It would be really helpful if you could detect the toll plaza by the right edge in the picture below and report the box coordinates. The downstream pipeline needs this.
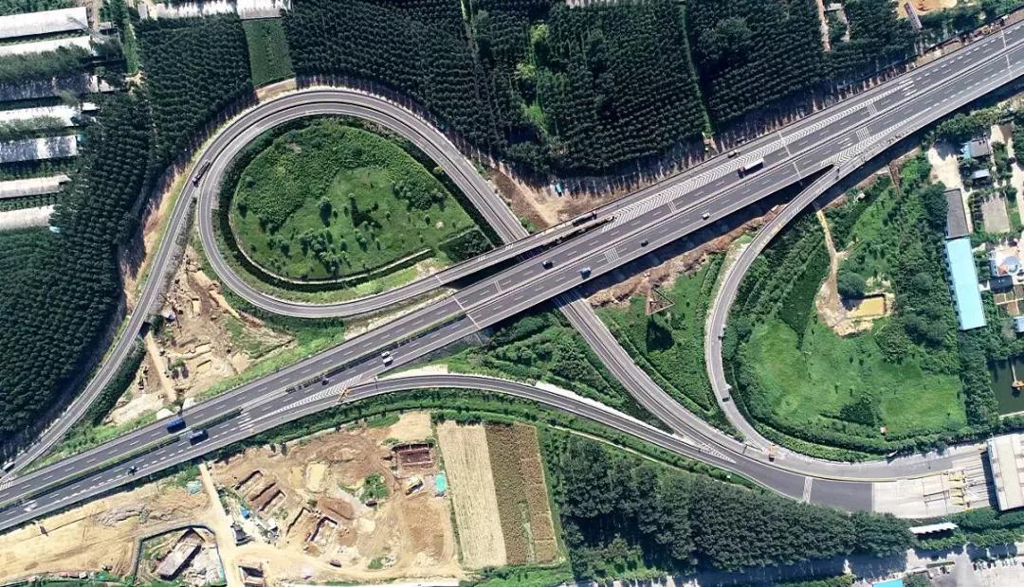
[949,430,1024,513]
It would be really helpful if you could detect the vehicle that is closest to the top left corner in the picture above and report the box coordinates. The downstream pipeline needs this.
[192,161,208,182]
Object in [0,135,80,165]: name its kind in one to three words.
greenhouse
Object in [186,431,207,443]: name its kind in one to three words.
vehicle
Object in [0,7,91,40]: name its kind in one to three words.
greenhouse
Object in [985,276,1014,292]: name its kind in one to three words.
house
